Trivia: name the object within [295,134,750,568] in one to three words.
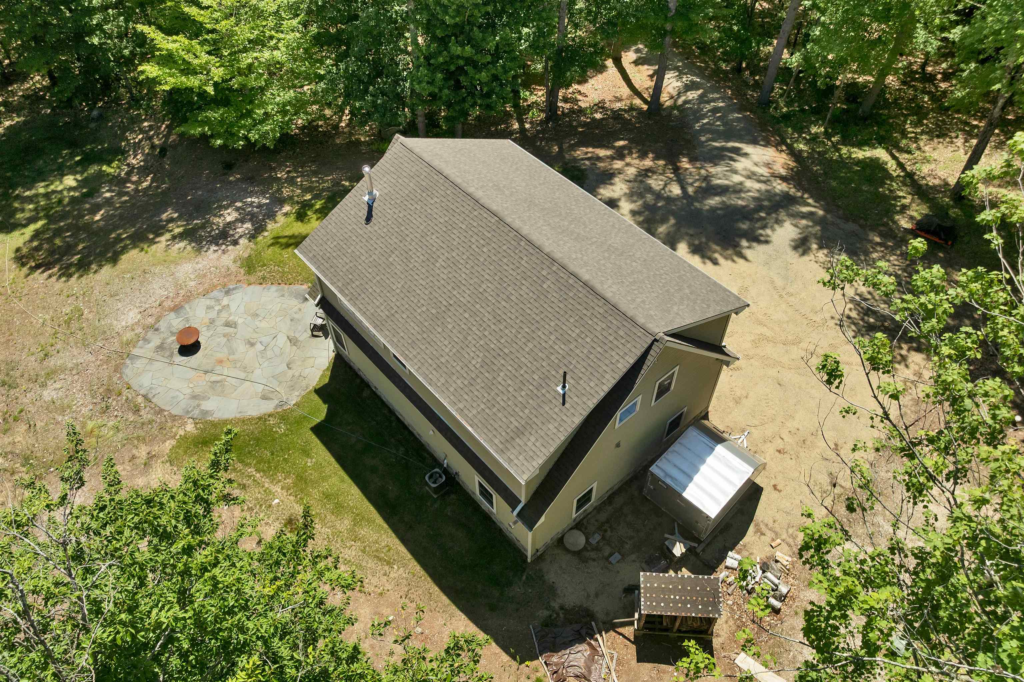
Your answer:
house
